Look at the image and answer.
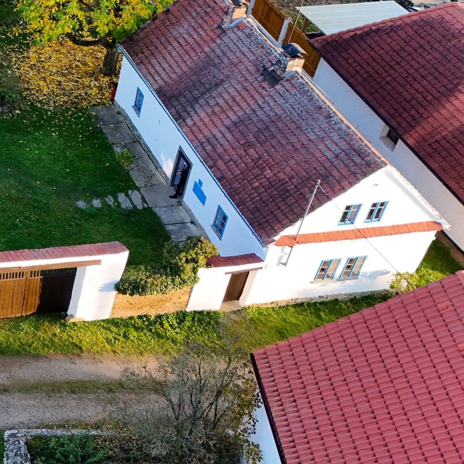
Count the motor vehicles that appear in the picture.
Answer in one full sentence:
There are no motor vehicles in the image.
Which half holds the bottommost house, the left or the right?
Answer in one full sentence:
It is on the right.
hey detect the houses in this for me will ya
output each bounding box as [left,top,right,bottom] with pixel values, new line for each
[112,0,451,309]
[230,268,464,464]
